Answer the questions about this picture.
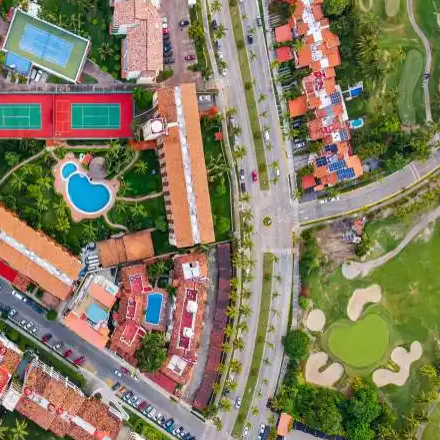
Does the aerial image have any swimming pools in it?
Yes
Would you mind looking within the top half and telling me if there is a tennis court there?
Yes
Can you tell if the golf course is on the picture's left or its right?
right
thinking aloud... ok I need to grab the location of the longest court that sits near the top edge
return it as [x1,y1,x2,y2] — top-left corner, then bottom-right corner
[2,8,90,85]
